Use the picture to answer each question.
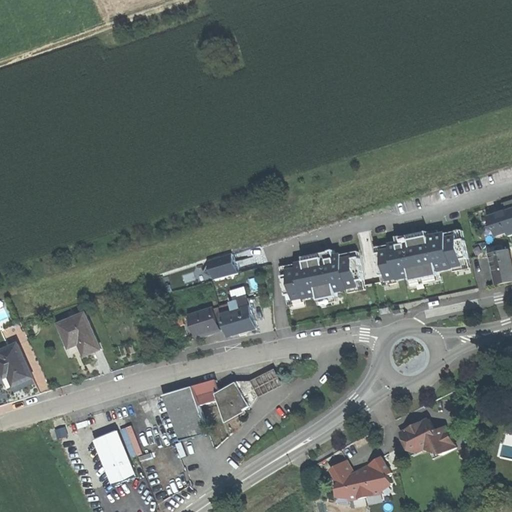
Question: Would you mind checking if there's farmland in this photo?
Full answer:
Yes, farmland shows up in the scene.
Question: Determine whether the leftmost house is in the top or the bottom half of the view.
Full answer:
You can find the leftmost house in the bottom half.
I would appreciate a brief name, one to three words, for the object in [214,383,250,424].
building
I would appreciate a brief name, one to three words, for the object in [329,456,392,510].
house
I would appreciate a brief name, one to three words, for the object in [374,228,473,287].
building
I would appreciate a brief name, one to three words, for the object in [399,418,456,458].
house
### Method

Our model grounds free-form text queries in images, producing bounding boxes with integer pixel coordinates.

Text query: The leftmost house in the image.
[0,342,34,391]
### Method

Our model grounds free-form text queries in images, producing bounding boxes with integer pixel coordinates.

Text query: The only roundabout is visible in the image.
[378,324,442,389]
